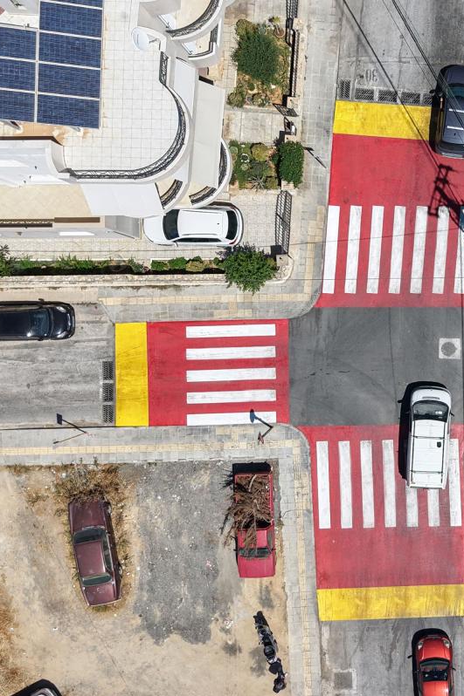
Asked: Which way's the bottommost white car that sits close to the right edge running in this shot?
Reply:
from top to bottom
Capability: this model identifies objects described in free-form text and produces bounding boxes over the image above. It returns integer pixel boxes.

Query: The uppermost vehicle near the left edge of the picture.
[0,296,80,345]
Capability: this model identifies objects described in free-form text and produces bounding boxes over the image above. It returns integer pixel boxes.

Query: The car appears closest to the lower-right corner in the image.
[409,625,458,696]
